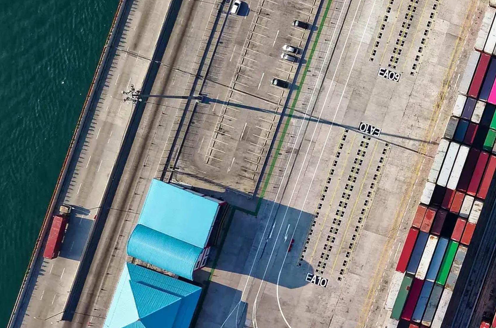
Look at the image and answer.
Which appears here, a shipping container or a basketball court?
shipping container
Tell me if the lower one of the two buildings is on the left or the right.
left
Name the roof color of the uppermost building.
blue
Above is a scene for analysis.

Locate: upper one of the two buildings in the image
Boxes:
[127,177,230,279]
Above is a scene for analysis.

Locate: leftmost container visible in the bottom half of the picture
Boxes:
[44,214,70,258]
